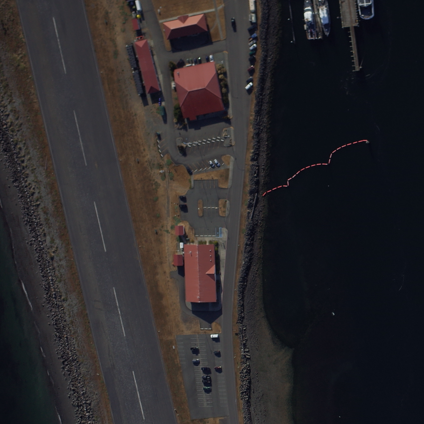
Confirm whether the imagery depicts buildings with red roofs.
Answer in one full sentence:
Yes, the photo shows a building with a red roof.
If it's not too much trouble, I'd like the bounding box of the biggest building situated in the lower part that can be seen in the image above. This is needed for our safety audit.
[184,244,218,302]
